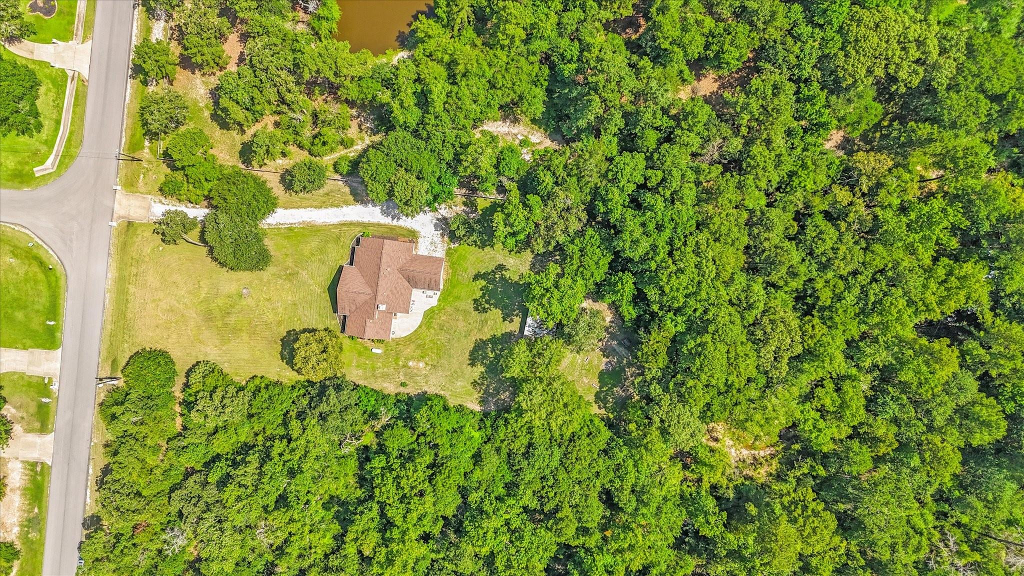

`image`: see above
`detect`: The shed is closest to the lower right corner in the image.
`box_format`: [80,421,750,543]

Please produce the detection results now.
[527,313,556,341]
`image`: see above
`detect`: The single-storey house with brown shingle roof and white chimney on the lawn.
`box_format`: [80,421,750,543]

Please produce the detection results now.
[337,237,444,340]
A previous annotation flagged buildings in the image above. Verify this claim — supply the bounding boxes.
[337,237,444,340]
[527,313,556,341]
